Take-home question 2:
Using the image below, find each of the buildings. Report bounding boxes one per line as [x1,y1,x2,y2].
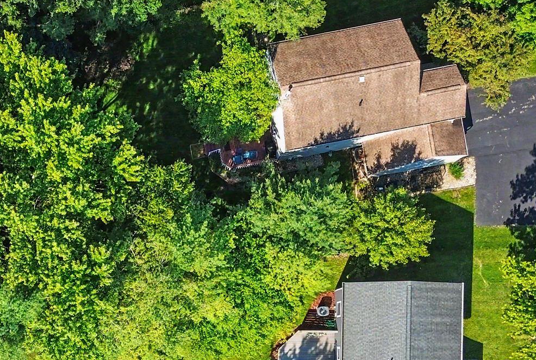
[262,17,469,181]
[334,281,464,360]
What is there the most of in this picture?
trees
